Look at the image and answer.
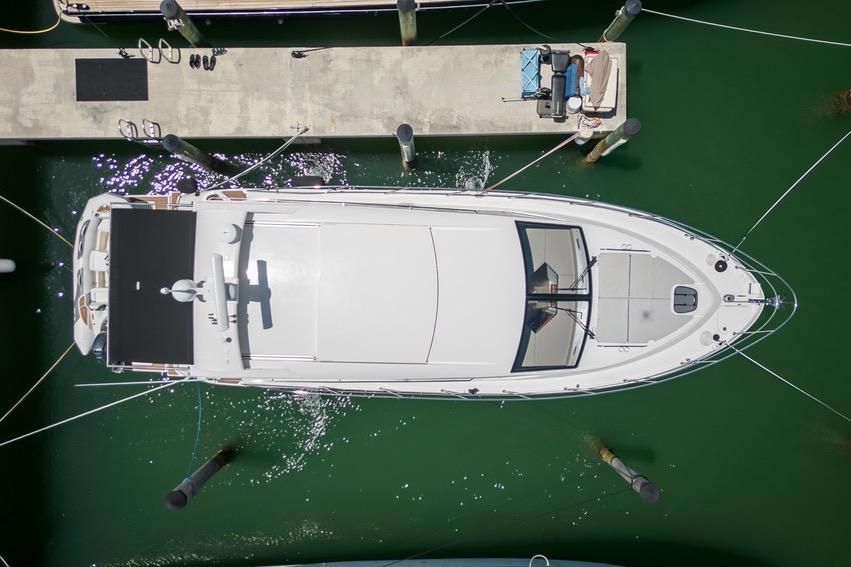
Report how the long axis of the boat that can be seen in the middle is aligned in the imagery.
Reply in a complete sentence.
From this overhead view, the boat that can be seen in the middle appears to run horizontally.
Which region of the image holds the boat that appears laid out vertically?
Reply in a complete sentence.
The boat that appears laid out vertically appears toward the left of the photo.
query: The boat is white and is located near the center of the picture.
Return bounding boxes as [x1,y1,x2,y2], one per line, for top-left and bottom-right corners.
[76,186,797,402]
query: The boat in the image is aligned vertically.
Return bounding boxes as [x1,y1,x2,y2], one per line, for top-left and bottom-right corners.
[71,191,134,357]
